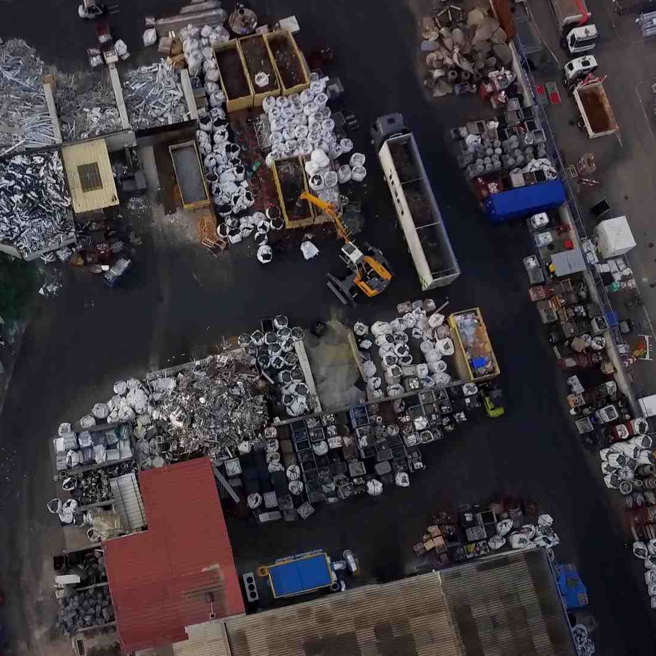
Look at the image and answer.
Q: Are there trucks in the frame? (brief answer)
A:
Yes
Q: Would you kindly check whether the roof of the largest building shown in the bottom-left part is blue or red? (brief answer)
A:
red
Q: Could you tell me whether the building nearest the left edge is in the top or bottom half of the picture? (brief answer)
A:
top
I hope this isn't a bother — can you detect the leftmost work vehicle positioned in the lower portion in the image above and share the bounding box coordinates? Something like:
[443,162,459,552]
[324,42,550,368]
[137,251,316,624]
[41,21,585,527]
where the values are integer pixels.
[472,382,503,419]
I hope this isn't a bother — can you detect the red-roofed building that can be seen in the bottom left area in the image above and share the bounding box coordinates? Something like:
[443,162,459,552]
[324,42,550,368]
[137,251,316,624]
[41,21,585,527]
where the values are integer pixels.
[102,457,246,654]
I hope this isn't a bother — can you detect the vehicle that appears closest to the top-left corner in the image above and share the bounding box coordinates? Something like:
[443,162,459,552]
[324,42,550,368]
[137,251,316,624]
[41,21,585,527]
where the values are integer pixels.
[77,0,114,21]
